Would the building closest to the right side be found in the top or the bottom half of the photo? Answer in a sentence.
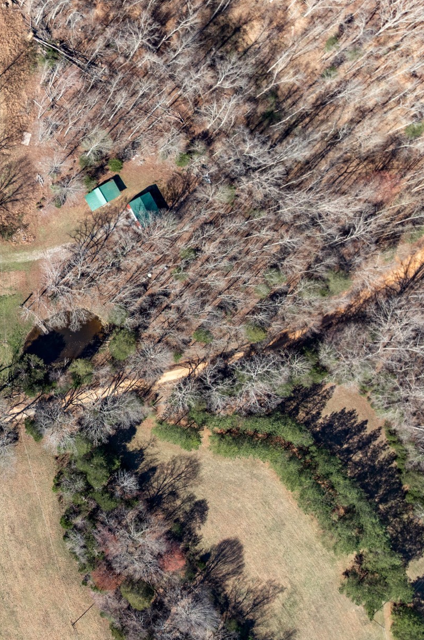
The top half of the photo is where the building closest to the right side is.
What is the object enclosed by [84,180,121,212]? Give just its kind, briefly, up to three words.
shed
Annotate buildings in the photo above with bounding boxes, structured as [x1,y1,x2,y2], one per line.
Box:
[84,180,121,212]
[127,192,164,231]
